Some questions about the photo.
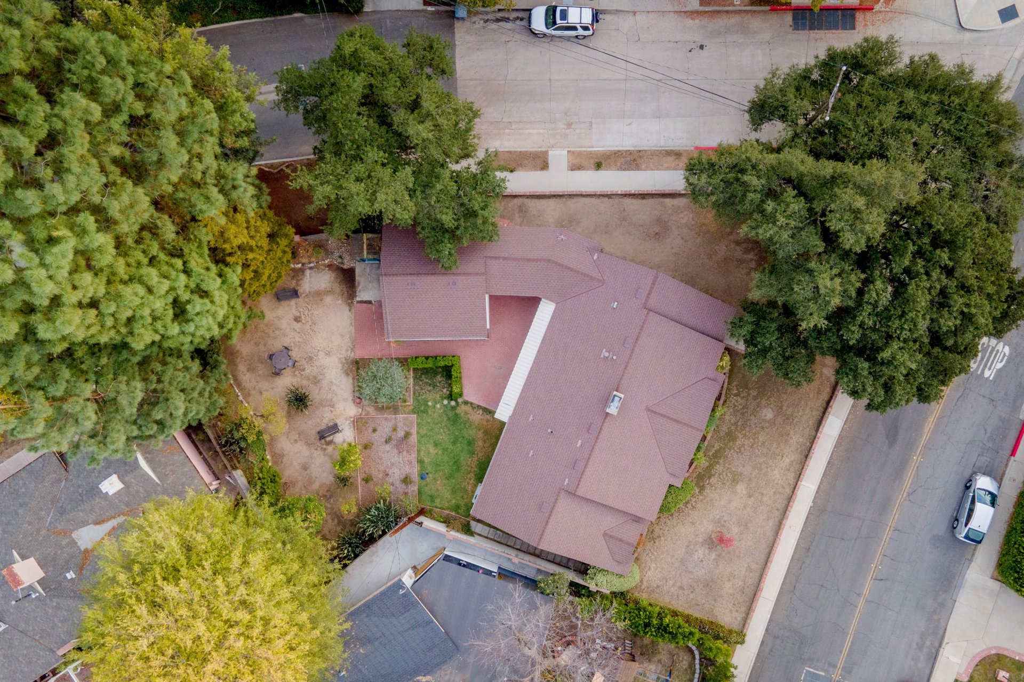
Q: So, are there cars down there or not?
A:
Yes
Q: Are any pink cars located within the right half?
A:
No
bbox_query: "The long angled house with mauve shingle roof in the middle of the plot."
[382,224,732,575]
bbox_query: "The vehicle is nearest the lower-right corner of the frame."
[953,474,1003,547]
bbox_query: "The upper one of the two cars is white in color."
[530,0,599,37]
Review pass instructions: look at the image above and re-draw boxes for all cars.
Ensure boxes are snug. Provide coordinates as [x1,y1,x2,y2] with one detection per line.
[953,474,1003,547]
[530,0,599,37]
